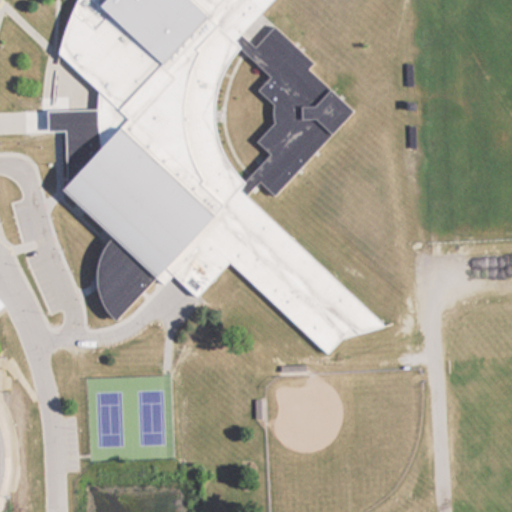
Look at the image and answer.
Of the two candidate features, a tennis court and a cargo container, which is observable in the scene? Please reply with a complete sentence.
This aerial view contains a tennis court.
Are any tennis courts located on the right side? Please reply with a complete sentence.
No, there's no tennis court to be seen on the right side.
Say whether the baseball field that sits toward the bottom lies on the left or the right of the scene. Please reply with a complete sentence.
The baseball field that sits toward the bottom sits on the right side.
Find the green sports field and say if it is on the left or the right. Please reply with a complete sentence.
It is on the right.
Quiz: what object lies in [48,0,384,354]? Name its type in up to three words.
building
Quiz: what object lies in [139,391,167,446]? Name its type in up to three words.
tennis court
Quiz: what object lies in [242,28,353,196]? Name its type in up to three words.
building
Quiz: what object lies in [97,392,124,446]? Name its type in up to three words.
tennis court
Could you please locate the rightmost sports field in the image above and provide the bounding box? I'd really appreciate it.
[412,0,512,240]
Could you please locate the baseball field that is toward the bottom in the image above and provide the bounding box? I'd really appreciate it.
[266,369,424,512]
